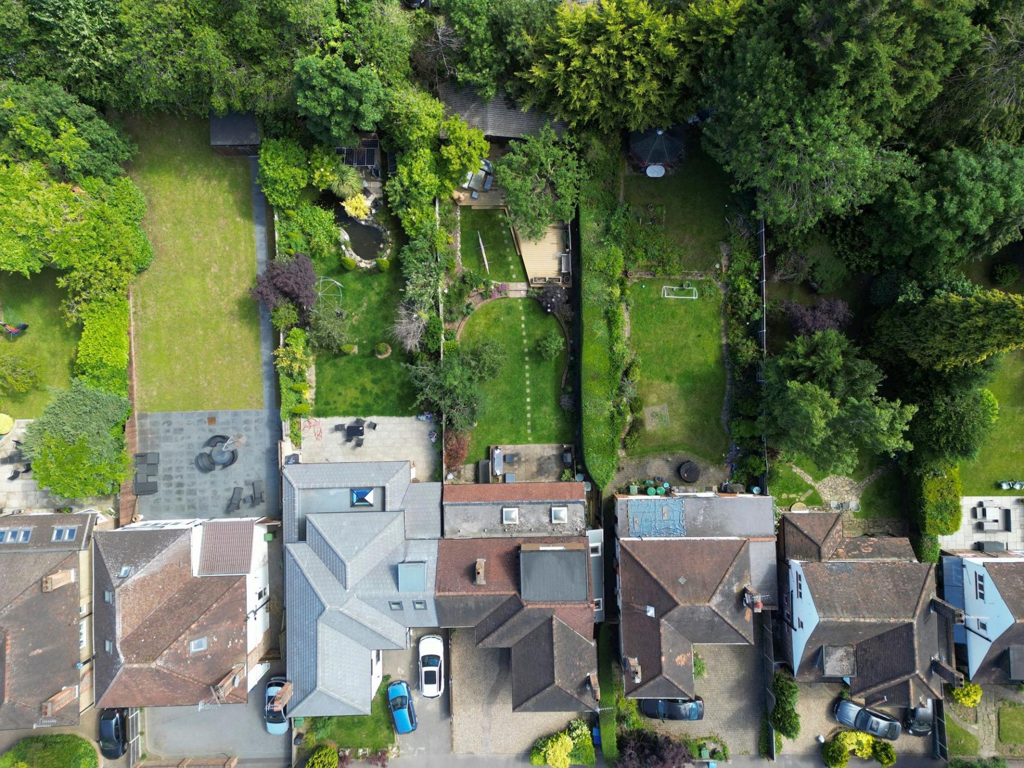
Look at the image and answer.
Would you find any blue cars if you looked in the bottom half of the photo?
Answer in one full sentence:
Yes, looking in the bottom half of the photo, one can make out a blue car.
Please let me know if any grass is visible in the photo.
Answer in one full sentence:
Yes, there is grass in the image.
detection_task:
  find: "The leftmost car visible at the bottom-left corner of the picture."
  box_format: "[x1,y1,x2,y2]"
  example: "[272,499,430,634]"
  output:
[91,707,124,766]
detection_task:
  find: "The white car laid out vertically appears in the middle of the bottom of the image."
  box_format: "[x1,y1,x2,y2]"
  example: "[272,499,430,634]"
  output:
[414,636,445,704]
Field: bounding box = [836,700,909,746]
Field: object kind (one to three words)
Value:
car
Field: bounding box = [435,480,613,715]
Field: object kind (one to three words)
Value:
house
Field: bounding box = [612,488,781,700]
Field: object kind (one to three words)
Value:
house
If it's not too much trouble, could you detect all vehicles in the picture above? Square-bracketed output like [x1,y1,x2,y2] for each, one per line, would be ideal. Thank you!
[91,707,124,766]
[259,679,289,739]
[836,700,909,746]
[414,636,445,704]
[387,682,417,740]
[642,696,707,729]
[907,699,940,747]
